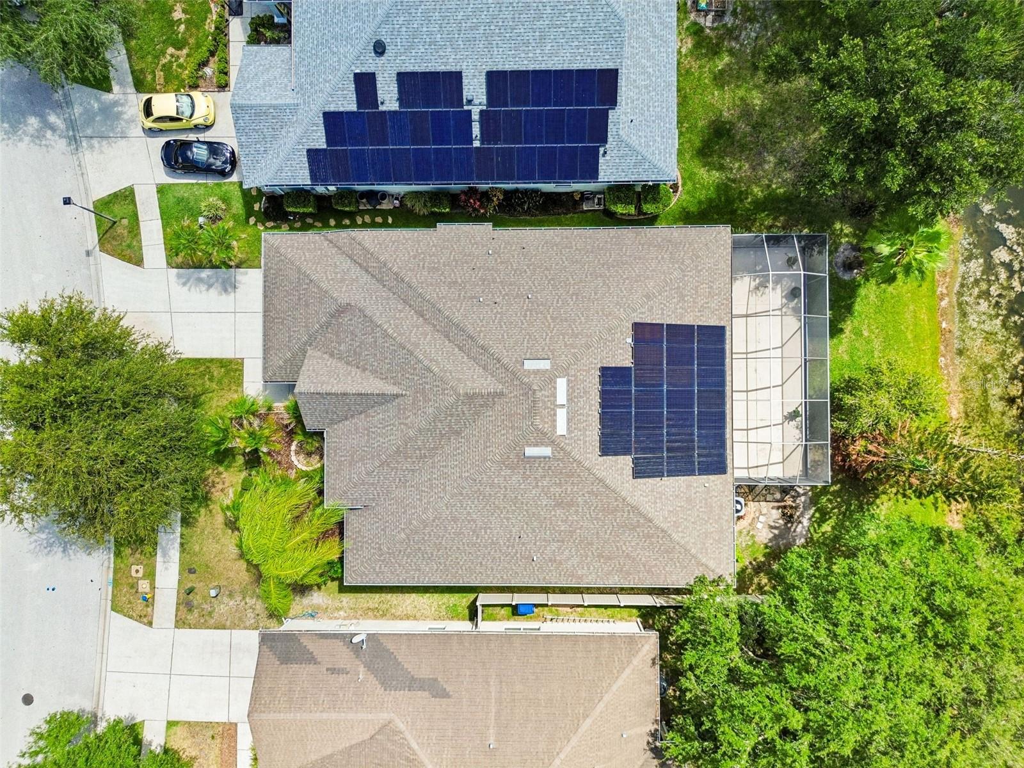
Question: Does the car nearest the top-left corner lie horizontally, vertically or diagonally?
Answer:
horizontally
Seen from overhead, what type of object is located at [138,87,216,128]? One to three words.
car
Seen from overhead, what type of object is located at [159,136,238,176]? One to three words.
car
